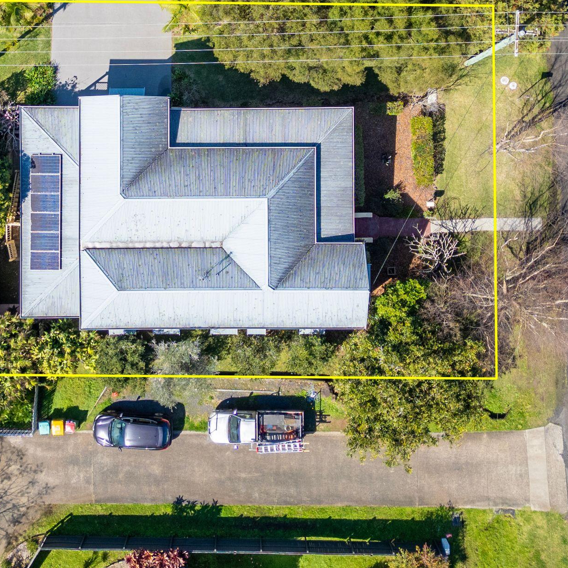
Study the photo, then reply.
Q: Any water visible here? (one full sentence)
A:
No, no water is visible.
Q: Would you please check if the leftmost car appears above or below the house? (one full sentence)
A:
Relative to the house, the leftmost car lies below it.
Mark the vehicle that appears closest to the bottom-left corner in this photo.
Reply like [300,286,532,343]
[93,414,173,456]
